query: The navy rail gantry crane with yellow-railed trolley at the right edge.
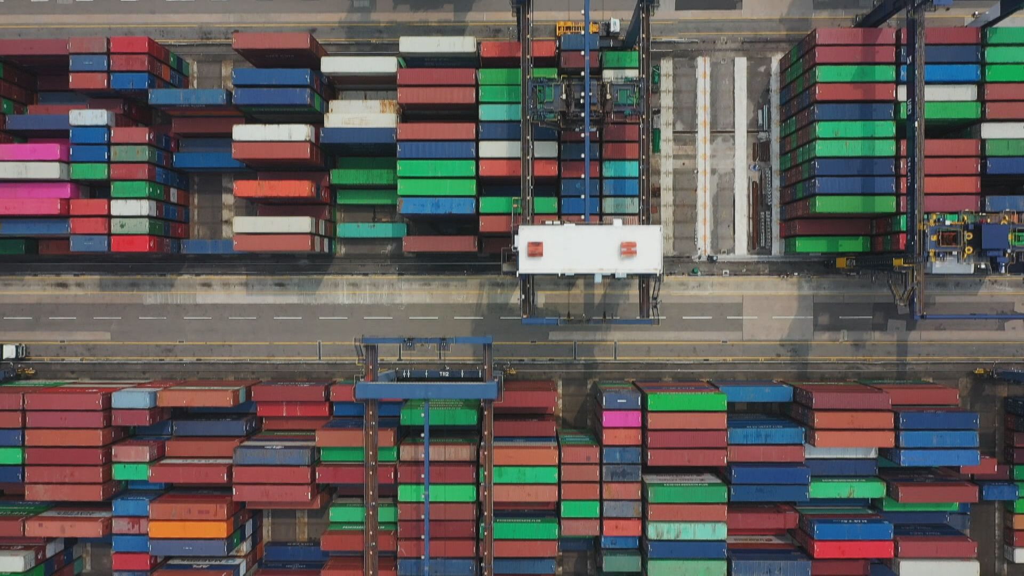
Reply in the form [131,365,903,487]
[797,0,1024,320]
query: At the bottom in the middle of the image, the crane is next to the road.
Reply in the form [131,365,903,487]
[353,337,509,576]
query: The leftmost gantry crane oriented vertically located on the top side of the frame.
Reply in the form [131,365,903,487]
[504,0,662,324]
